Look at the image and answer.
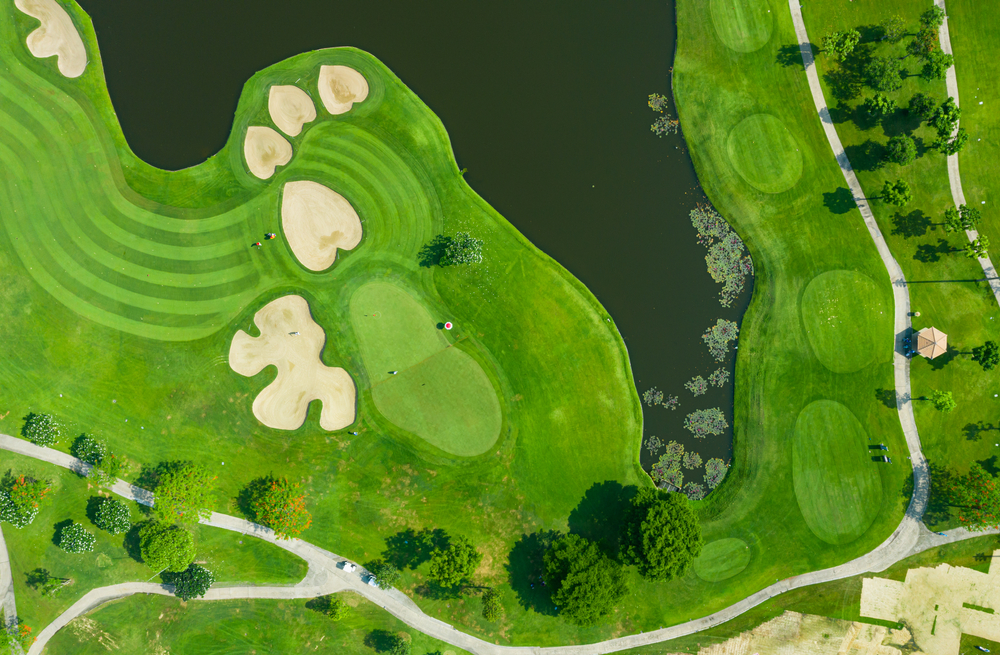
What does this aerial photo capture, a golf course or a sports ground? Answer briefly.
golf course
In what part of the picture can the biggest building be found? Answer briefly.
right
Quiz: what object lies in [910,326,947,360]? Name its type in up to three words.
building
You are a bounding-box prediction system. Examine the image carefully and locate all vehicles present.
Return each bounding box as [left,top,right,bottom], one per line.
[368,575,381,587]
[342,561,355,573]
